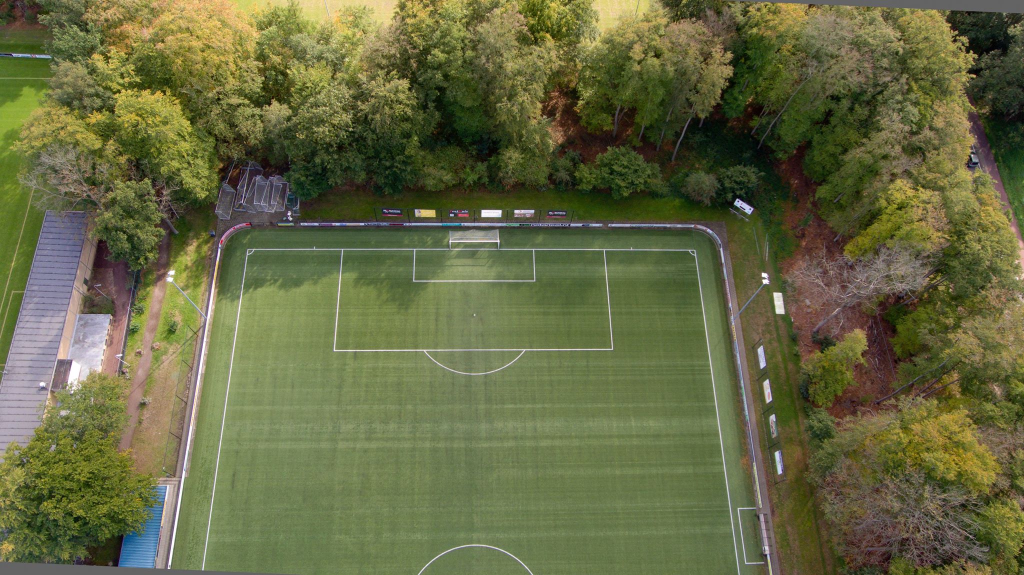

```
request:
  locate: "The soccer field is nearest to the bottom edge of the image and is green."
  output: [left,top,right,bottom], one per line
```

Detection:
[173,228,766,575]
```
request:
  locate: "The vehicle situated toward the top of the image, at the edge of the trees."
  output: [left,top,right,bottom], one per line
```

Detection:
[962,150,981,172]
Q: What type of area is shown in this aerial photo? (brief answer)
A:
sports ground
